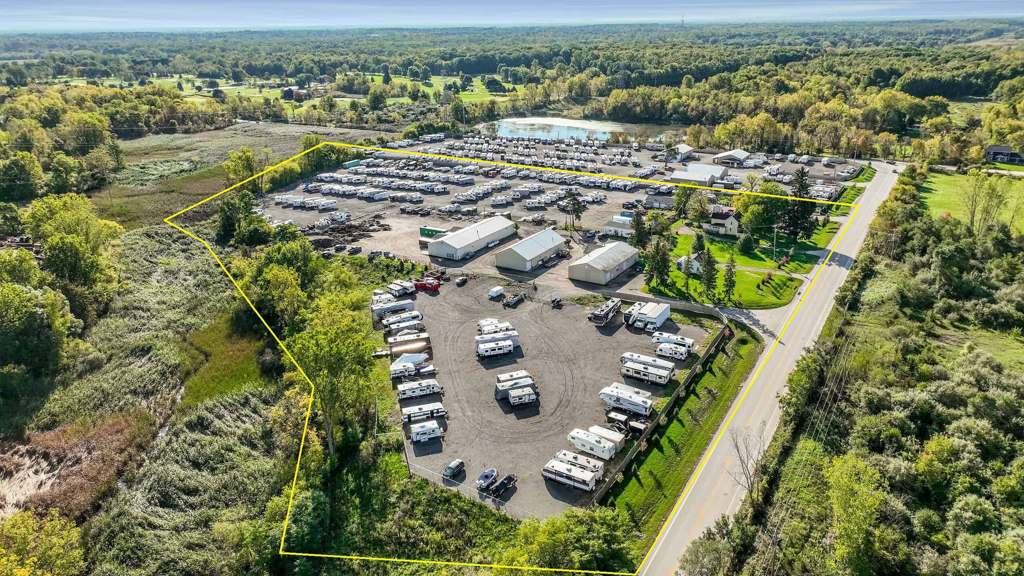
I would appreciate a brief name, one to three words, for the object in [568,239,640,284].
shed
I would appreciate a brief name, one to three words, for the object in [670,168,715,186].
building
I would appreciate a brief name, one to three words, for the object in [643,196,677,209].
building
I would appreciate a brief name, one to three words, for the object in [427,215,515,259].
shed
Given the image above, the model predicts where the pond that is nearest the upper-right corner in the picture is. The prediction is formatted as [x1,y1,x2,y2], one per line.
[479,117,691,141]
